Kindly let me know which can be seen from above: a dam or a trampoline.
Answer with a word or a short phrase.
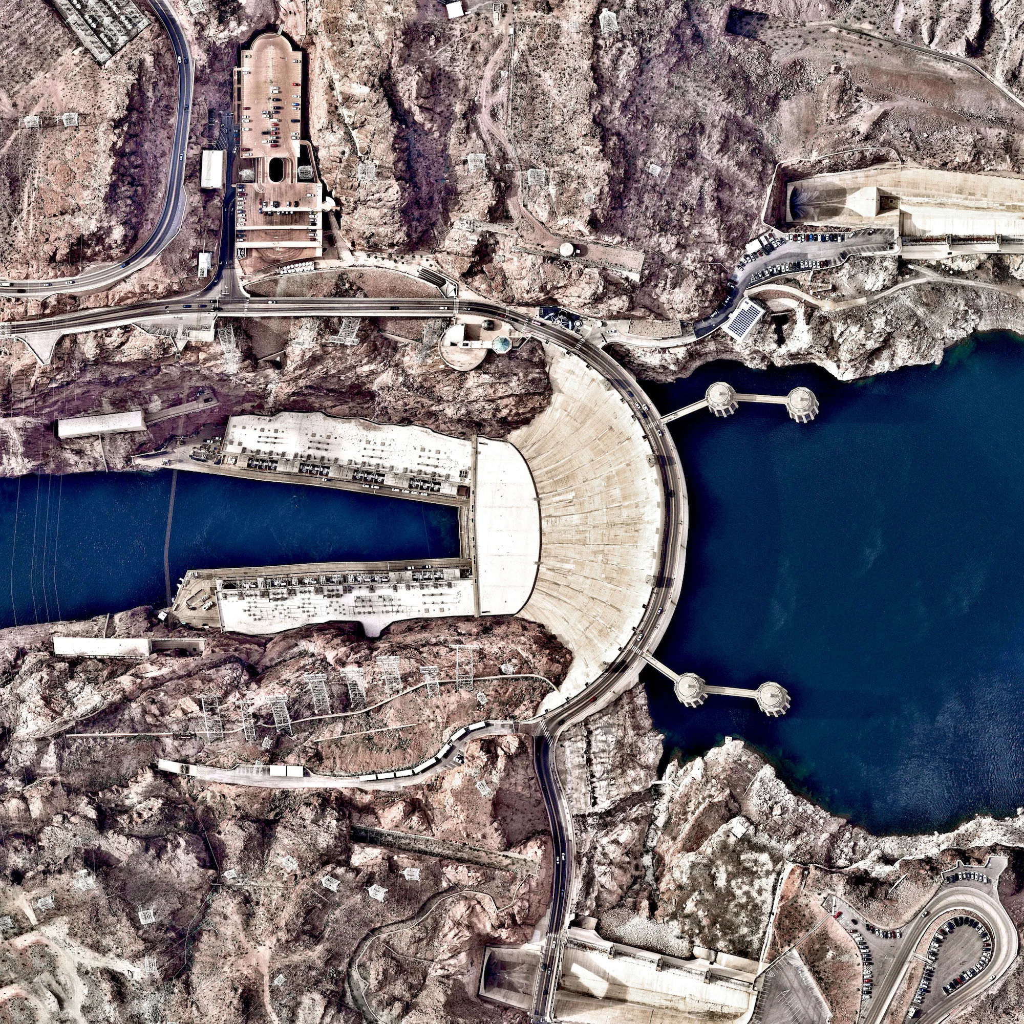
dam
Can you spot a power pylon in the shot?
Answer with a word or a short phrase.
Yes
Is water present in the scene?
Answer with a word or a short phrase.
Yes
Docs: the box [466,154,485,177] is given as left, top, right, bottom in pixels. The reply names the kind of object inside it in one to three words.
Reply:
pylon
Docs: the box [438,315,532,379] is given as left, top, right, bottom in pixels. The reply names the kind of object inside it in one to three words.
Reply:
building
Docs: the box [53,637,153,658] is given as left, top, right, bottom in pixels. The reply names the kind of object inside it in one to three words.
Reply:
building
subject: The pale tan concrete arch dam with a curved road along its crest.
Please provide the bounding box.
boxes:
[509,316,685,731]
